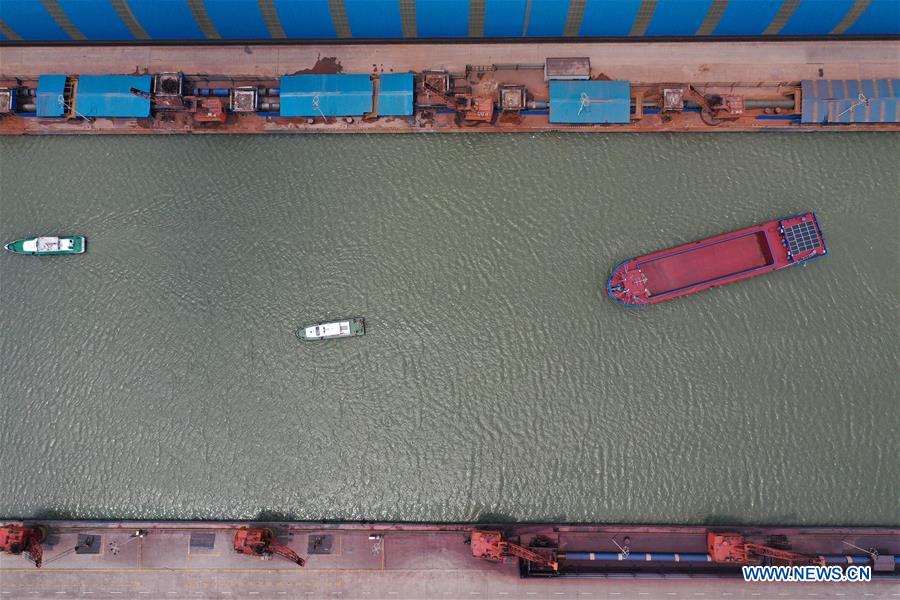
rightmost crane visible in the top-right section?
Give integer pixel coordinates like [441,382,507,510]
[686,83,741,126]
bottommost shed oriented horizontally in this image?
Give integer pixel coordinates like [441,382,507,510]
[546,58,590,79]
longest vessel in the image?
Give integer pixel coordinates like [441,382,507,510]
[606,209,829,304]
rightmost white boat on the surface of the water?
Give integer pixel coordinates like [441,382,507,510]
[295,318,367,341]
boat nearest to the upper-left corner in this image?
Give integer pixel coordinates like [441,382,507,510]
[3,236,89,255]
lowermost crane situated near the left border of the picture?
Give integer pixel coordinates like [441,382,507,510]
[0,519,78,569]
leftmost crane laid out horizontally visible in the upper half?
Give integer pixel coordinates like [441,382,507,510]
[128,85,234,126]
